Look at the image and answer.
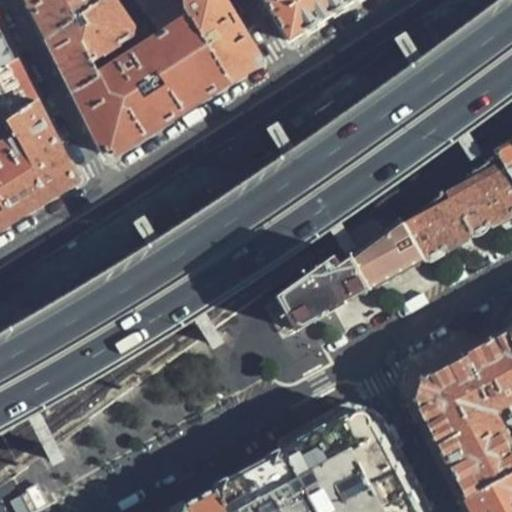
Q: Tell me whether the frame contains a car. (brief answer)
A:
Yes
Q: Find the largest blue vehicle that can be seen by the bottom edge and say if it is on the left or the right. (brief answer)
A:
left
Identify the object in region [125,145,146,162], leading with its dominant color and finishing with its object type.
white car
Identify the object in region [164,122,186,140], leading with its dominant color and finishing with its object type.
white vehicle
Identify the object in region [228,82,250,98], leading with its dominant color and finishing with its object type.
white car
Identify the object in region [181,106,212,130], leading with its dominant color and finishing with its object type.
white vehicle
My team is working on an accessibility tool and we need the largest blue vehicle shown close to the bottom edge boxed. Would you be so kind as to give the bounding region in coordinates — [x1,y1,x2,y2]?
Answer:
[115,488,146,511]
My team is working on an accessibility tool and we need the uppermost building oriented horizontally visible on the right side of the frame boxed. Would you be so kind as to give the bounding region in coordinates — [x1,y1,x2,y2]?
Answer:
[266,0,362,42]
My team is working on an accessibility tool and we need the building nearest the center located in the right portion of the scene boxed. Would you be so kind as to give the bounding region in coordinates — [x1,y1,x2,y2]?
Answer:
[278,255,366,326]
